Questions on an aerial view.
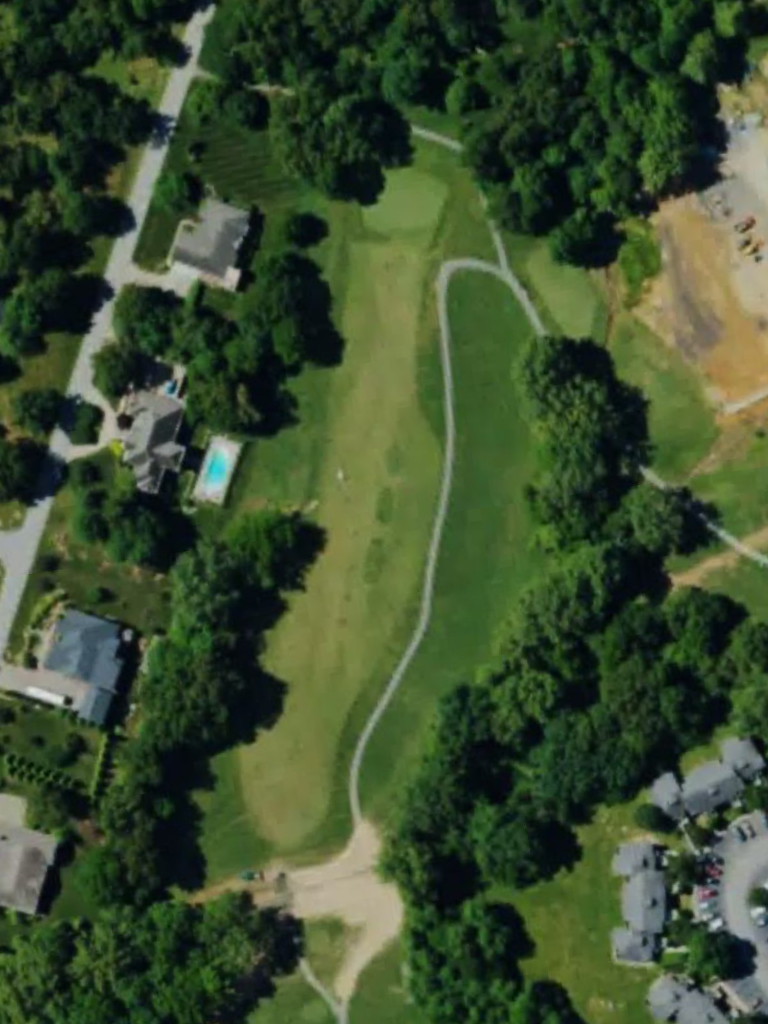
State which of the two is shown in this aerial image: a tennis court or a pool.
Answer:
pool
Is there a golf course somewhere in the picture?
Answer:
Yes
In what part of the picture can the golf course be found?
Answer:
center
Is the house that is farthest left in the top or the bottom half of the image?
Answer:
bottom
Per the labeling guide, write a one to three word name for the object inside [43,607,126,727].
house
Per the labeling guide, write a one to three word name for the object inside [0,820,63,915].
house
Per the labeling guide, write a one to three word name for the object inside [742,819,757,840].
car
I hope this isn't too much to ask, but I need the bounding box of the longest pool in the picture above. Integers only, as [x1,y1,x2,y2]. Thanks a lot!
[192,436,242,504]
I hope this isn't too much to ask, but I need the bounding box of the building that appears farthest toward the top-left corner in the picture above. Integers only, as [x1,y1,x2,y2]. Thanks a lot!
[173,199,254,277]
